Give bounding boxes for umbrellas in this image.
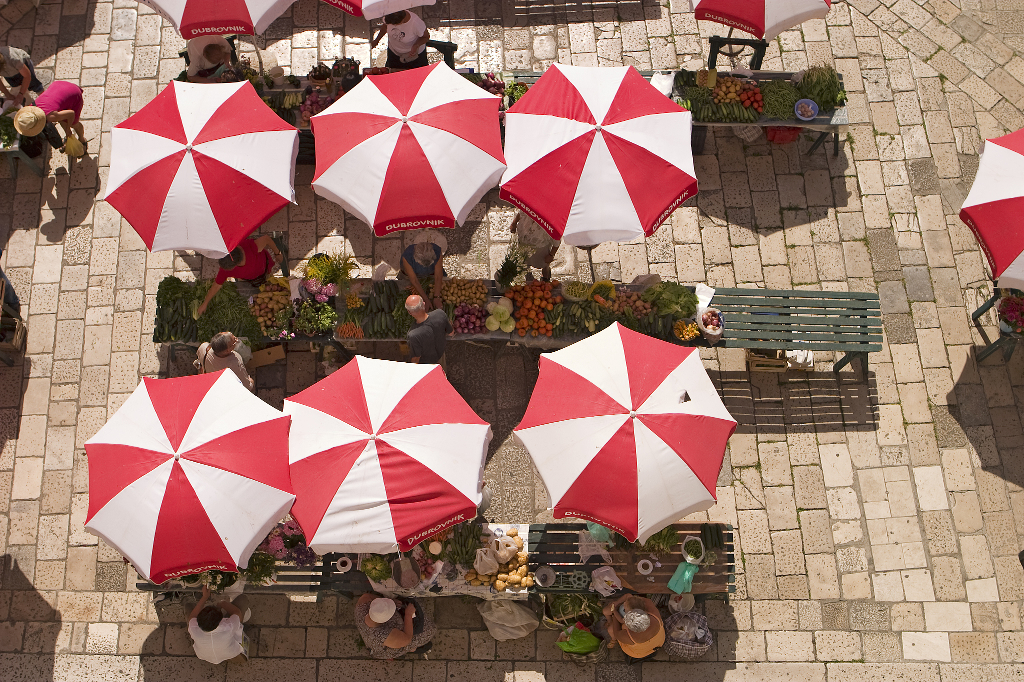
[103,79,300,259]
[684,0,835,56]
[957,123,1024,293]
[336,0,438,67]
[83,368,296,585]
[126,0,295,77]
[512,319,738,544]
[308,59,508,247]
[497,62,698,253]
[283,354,492,553]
